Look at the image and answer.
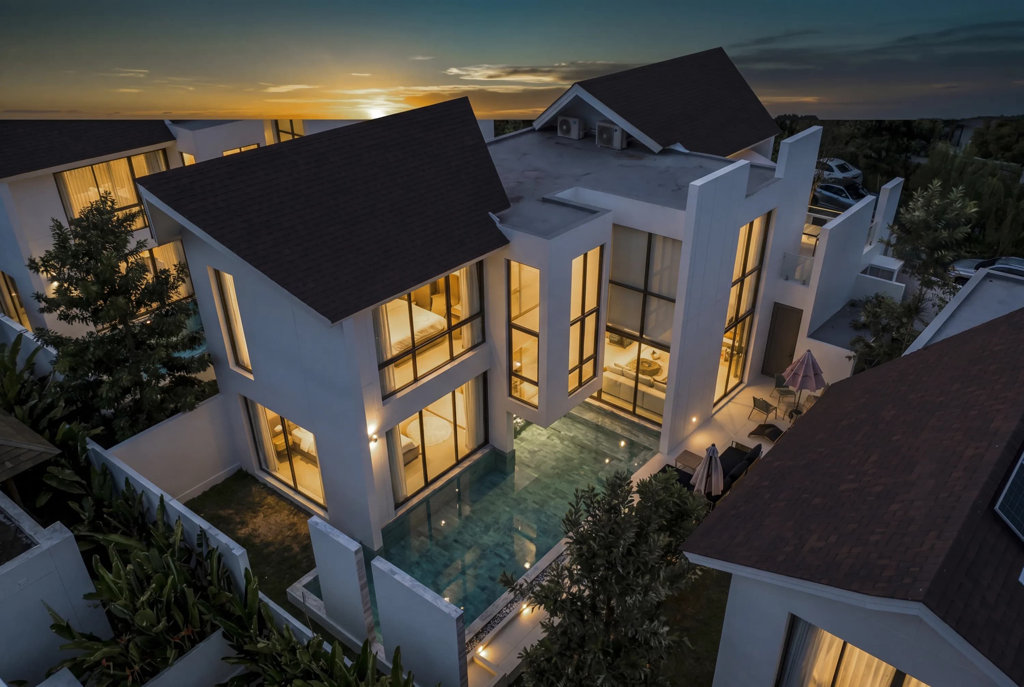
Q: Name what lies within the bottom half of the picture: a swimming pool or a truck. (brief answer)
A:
swimming pool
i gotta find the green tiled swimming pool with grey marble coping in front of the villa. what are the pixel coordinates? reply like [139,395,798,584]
[287,396,663,687]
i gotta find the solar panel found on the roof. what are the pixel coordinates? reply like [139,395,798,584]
[994,446,1024,546]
